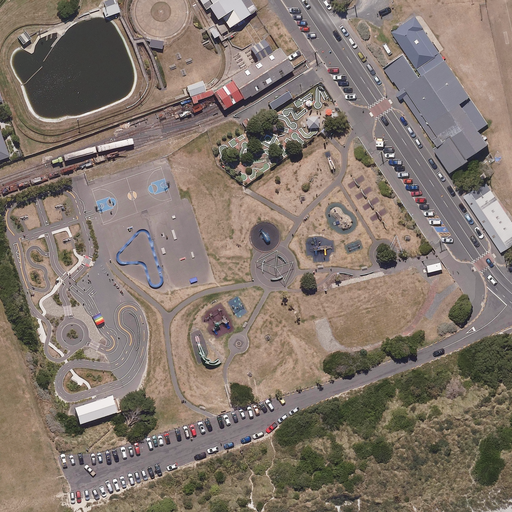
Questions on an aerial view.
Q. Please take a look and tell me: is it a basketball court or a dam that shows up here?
basketball court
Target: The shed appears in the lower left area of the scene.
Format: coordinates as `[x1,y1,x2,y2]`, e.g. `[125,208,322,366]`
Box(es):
[75,396,118,424]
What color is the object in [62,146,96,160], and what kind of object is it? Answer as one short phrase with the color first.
white rail car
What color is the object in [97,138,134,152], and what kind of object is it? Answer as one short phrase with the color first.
white rail car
